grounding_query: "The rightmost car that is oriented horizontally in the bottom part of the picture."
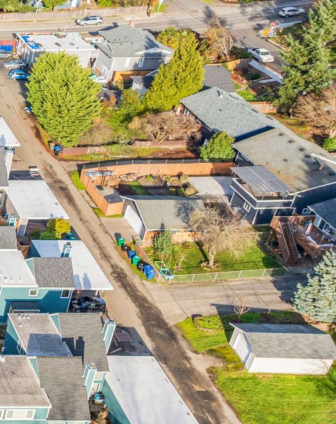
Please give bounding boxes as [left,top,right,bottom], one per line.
[68,292,110,311]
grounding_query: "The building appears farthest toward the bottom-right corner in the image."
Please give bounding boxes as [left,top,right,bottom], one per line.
[229,333,336,379]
